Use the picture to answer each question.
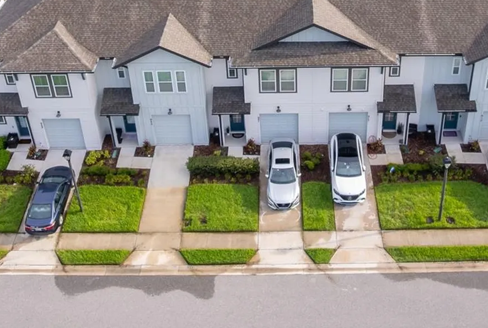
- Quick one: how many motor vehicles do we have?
three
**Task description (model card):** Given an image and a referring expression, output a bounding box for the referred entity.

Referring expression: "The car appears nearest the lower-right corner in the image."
[329,133,368,200]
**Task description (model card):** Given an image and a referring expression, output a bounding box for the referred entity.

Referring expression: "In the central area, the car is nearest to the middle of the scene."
[264,140,302,206]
